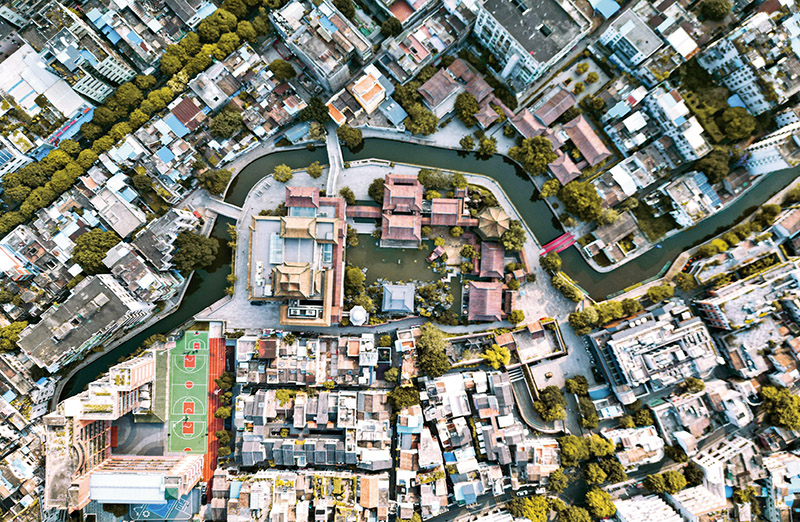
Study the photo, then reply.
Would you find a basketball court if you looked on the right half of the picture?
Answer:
No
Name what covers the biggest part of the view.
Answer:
buildings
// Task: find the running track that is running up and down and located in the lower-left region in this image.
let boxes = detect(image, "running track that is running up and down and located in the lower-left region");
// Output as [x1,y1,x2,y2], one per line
[209,322,225,496]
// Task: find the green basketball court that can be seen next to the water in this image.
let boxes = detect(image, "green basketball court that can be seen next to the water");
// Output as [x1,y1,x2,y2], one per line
[168,331,209,457]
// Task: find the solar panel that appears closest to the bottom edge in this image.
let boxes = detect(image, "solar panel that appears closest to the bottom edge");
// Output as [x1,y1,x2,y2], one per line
[694,173,722,206]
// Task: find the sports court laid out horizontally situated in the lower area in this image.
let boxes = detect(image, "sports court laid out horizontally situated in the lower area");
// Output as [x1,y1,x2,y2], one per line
[112,500,194,522]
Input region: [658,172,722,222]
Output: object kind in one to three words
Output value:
house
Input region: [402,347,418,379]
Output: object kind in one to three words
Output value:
shed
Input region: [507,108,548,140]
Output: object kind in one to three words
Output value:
building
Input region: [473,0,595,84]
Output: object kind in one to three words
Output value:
building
